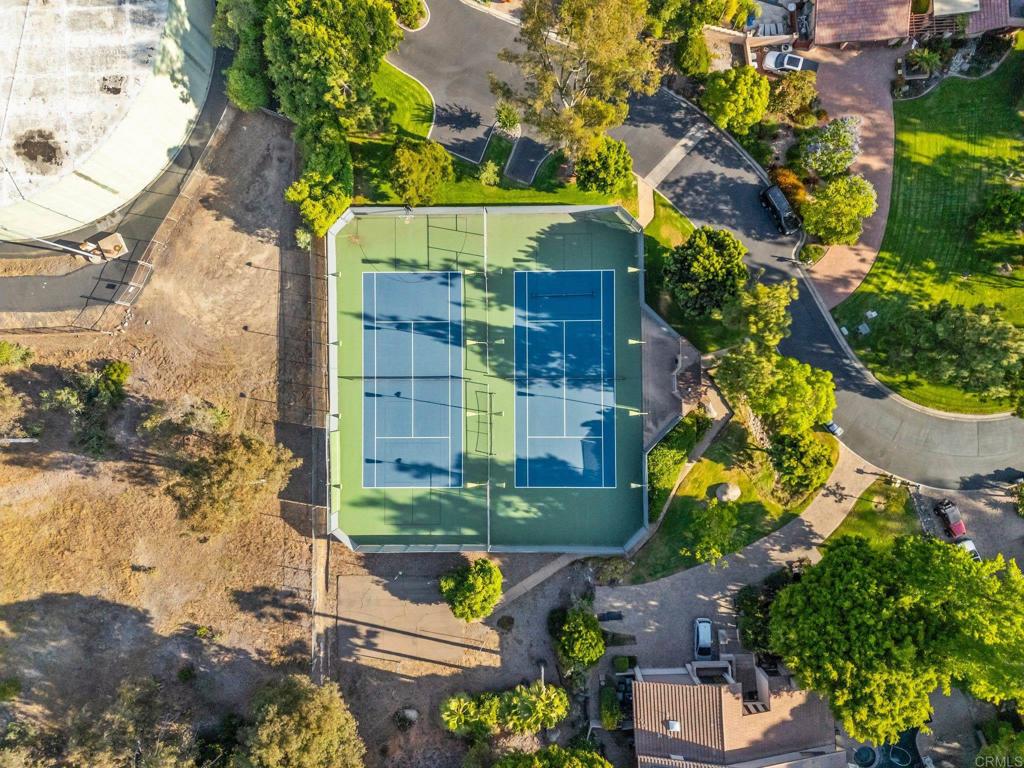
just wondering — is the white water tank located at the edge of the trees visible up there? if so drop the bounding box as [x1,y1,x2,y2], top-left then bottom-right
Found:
[0,0,212,241]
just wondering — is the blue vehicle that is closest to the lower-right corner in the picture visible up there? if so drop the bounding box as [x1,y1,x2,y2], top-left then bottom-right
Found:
[693,616,715,660]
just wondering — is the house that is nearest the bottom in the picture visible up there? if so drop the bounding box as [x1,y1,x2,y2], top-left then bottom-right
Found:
[632,653,846,768]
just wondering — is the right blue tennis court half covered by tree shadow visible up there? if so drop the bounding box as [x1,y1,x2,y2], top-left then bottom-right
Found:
[487,213,644,547]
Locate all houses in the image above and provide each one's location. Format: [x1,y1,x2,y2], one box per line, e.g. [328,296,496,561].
[632,653,846,768]
[809,0,1024,54]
